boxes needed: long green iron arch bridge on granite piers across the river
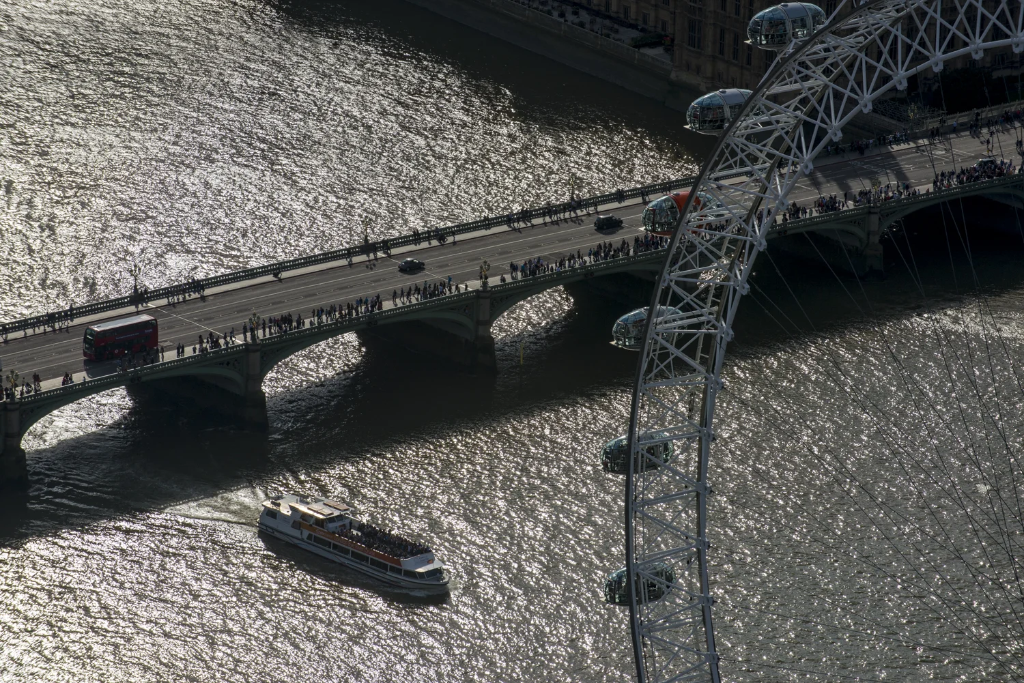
[0,129,1024,494]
